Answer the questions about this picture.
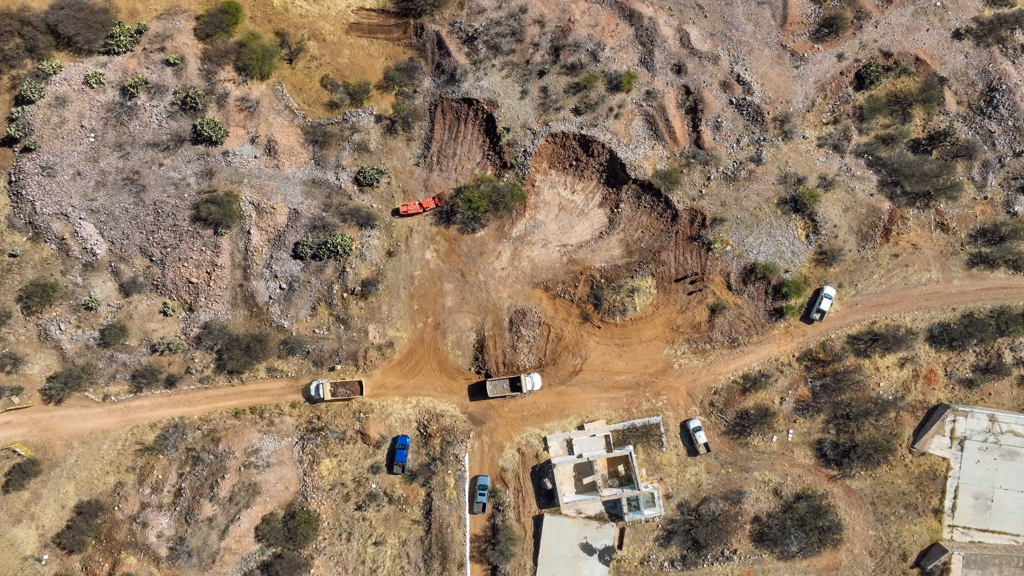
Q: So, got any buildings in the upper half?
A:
No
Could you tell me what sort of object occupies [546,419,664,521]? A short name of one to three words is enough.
house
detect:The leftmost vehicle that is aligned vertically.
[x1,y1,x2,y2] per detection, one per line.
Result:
[392,434,410,474]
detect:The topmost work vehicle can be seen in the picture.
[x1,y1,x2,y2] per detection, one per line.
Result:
[399,190,452,215]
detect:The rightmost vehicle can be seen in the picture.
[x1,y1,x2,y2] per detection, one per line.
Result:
[807,284,833,324]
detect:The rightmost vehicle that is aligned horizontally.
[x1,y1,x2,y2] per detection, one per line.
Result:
[485,377,543,403]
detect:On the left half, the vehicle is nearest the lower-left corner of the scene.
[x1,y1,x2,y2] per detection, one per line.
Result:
[312,380,366,404]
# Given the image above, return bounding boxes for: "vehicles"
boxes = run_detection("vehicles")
[685,416,713,457]
[473,474,490,514]
[485,377,543,403]
[399,190,452,215]
[807,284,833,324]
[392,434,410,474]
[312,380,366,404]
